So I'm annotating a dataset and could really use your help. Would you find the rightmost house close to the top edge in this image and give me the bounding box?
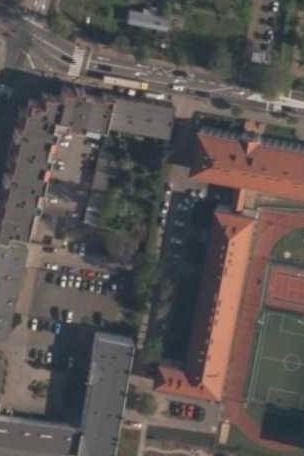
[128,7,170,31]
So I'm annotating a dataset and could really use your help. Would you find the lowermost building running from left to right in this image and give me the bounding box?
[0,414,78,454]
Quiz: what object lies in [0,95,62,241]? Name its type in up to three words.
building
